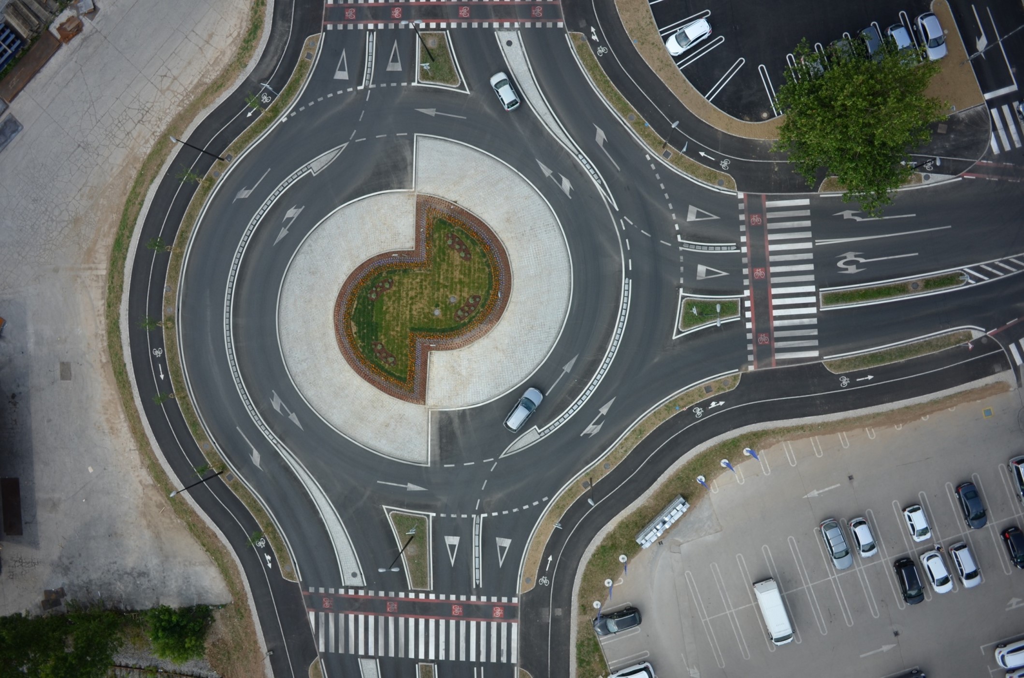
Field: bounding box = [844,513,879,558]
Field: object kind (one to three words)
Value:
car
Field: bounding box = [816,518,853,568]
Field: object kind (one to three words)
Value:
car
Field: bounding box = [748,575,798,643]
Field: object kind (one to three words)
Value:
van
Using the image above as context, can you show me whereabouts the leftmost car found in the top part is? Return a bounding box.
[489,69,522,115]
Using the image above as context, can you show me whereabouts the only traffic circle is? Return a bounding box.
[223,30,631,587]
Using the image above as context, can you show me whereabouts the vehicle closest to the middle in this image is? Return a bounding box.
[503,387,544,434]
